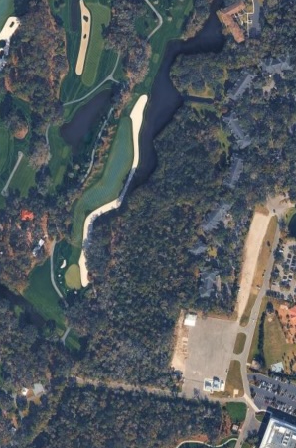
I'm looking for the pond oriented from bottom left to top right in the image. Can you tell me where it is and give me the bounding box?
[59,88,113,156]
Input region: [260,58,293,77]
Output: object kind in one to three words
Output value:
building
